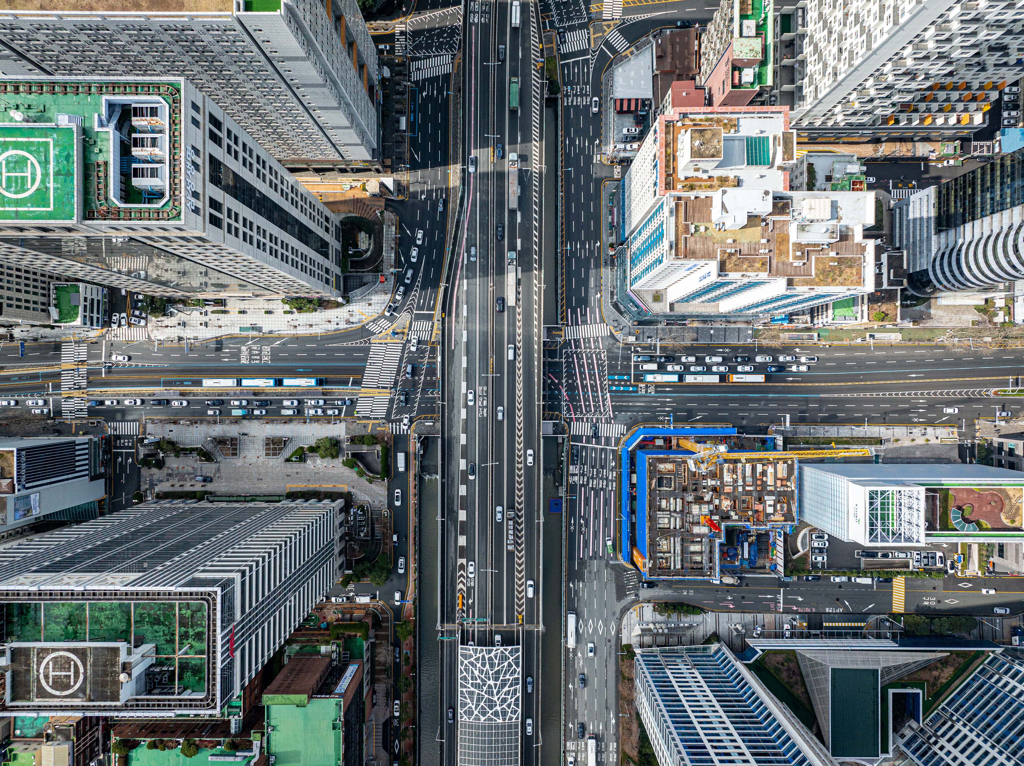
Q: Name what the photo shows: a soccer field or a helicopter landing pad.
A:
helicopter landing pad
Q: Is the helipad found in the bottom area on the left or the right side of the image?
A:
left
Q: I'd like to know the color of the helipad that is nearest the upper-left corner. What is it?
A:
green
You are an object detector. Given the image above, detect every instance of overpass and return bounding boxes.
[438,0,547,766]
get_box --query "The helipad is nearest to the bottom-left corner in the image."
[4,641,129,706]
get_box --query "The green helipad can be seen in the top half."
[0,123,89,227]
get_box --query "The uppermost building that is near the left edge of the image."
[0,0,383,172]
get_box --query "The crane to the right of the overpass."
[673,437,874,460]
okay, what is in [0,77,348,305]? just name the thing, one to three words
building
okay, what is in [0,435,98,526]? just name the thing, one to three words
building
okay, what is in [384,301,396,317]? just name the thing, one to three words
vehicle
